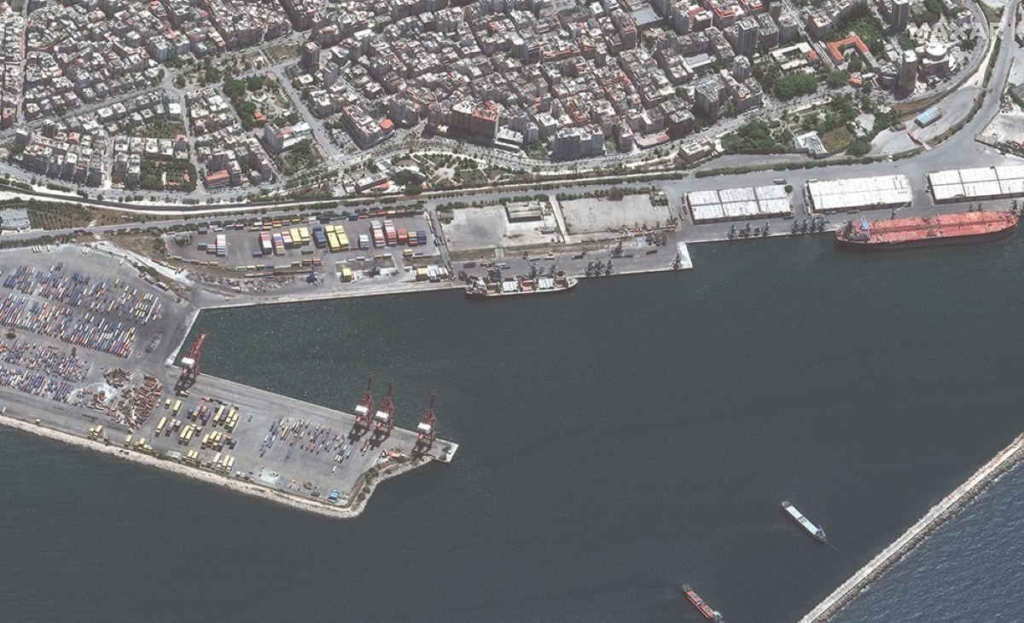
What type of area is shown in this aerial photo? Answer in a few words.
port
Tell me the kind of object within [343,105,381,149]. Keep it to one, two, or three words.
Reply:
building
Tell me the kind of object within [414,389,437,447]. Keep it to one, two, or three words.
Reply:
container crane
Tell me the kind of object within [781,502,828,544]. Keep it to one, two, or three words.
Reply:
ship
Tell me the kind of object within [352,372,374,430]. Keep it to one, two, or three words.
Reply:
container crane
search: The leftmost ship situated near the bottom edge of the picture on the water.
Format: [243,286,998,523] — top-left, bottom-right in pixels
[682,586,726,623]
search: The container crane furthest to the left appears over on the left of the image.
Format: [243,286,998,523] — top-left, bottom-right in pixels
[178,330,207,382]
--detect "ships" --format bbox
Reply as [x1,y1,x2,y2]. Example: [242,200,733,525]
[835,206,1018,249]
[781,502,828,544]
[682,586,726,623]
[465,254,578,296]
